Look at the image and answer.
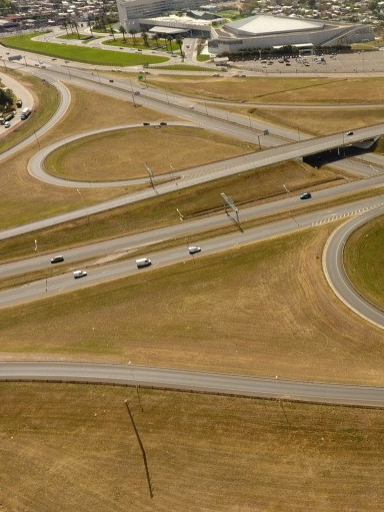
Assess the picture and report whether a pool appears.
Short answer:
No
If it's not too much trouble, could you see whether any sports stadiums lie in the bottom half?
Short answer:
No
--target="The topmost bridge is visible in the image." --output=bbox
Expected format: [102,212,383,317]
[281,124,384,163]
